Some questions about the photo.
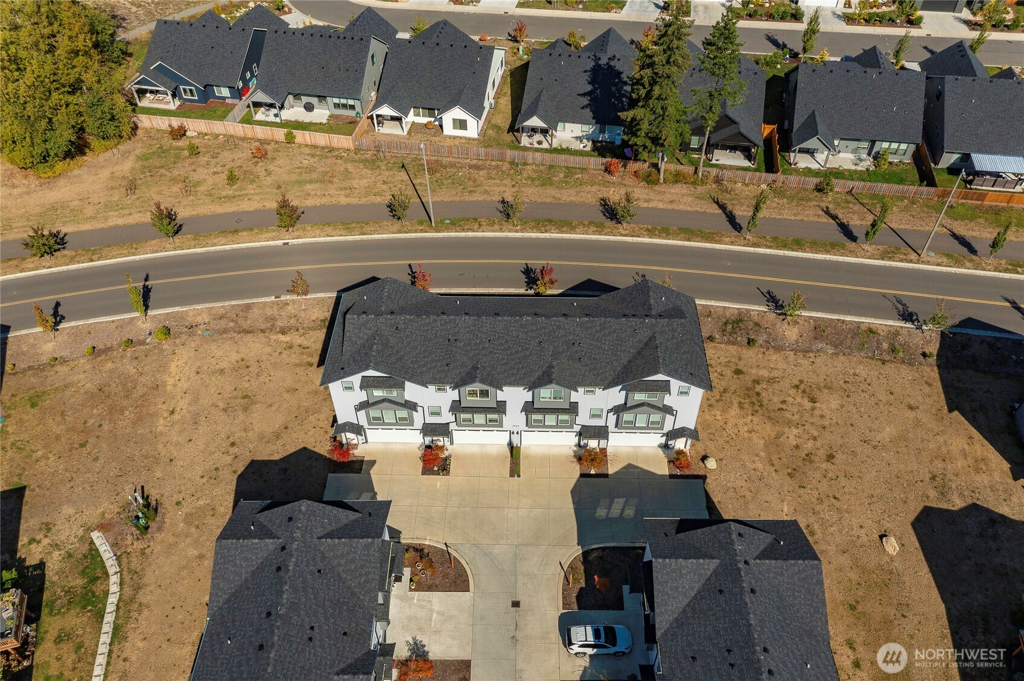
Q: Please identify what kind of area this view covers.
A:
residential area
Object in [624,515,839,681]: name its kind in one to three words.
house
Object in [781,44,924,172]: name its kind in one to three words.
house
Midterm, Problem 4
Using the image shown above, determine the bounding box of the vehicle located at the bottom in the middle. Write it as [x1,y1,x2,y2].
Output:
[566,622,631,657]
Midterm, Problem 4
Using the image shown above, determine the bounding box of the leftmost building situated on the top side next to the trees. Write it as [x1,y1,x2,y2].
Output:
[129,3,291,110]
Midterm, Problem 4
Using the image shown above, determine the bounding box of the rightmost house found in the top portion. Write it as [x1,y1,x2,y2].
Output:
[918,40,1024,194]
